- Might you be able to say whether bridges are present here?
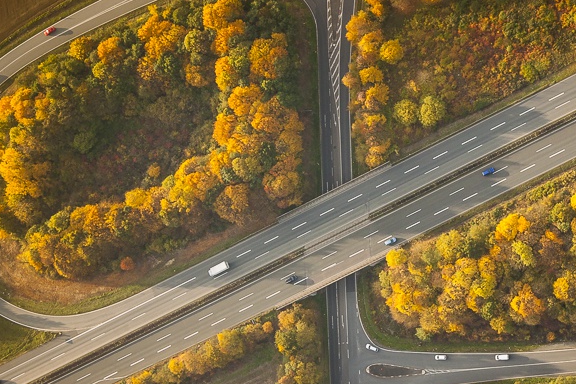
Yes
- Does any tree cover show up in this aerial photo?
Yes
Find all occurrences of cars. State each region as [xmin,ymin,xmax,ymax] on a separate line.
[434,355,447,360]
[366,344,378,352]
[286,275,298,284]
[45,27,55,35]
[483,168,494,176]
[385,237,396,245]
[496,354,509,360]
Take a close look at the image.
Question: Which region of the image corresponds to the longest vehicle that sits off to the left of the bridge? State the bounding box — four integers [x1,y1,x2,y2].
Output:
[210,262,228,275]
